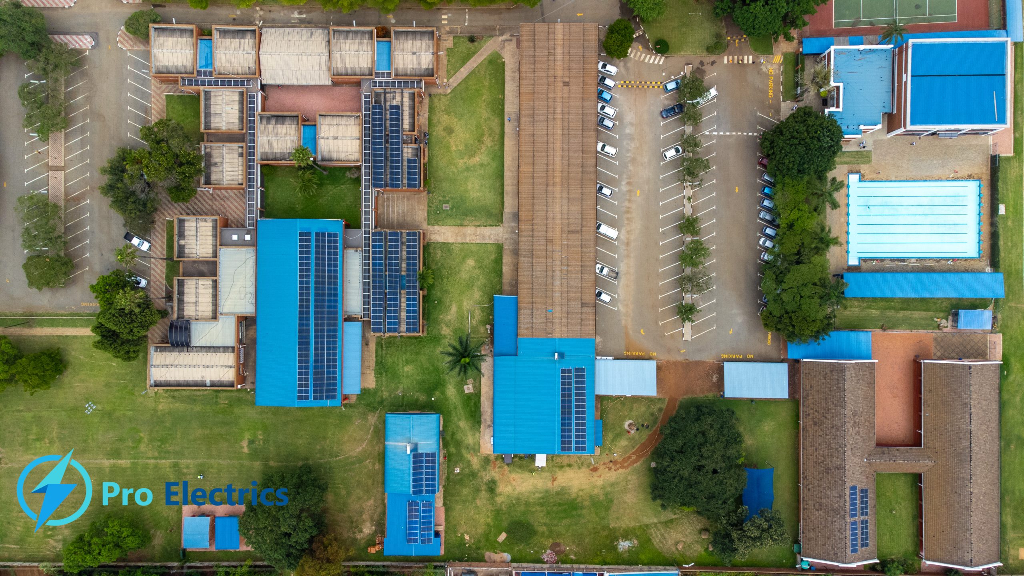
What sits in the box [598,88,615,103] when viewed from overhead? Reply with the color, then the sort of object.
blue car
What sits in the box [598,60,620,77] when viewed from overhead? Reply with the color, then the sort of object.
white car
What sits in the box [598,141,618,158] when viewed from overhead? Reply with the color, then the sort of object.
white car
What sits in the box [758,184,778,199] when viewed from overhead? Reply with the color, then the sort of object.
blue car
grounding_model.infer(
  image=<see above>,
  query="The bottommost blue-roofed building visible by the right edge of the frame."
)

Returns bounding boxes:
[951,310,993,329]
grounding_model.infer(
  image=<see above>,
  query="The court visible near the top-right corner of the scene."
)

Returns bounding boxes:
[805,0,990,37]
